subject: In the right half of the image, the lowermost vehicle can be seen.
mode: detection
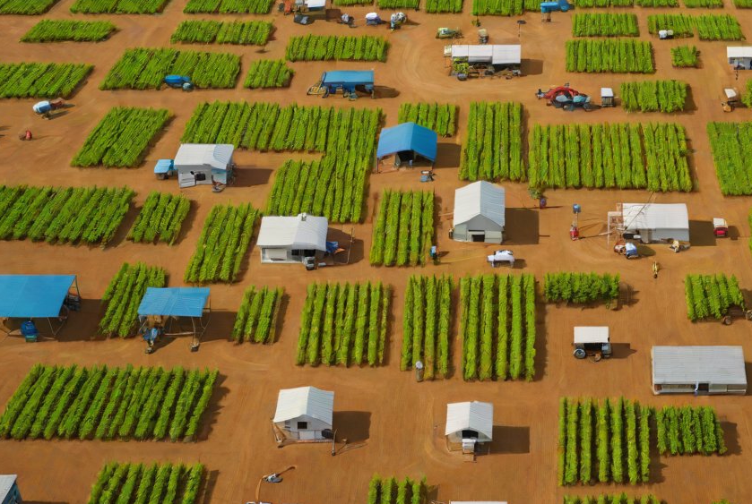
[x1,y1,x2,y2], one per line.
[461,430,480,461]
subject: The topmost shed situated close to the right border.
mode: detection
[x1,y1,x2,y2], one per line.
[724,45,752,69]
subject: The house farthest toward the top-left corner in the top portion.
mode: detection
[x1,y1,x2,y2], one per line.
[173,143,236,186]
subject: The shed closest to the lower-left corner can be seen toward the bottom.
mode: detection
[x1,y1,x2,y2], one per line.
[268,385,343,445]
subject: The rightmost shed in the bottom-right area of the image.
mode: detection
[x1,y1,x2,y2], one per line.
[647,345,749,396]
